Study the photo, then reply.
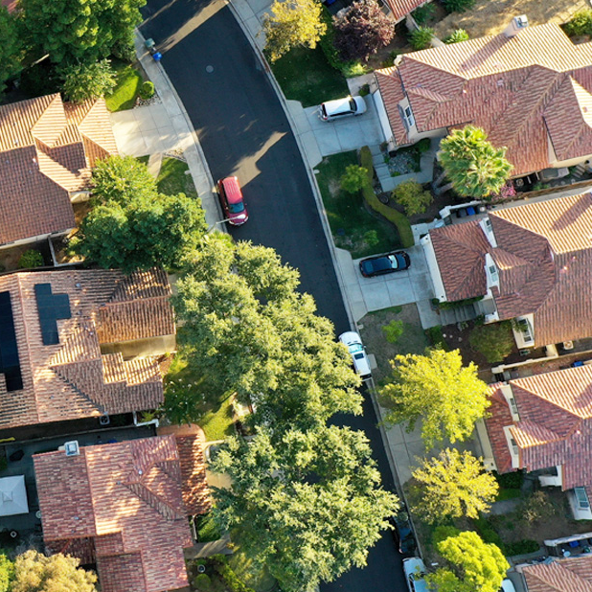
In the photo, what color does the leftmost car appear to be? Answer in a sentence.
From above, the leftmost car appears red.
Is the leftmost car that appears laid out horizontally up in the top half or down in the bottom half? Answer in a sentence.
The leftmost car that appears laid out horizontally sits in the top half of the picture.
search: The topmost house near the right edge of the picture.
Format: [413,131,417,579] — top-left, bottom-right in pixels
[368,13,592,177]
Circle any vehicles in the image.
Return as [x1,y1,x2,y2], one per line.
[401,555,433,592]
[217,174,249,226]
[316,91,369,121]
[356,249,412,279]
[339,327,376,381]
[386,501,419,558]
